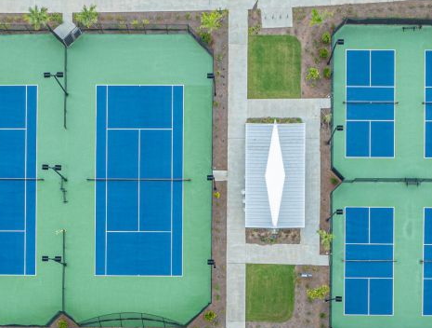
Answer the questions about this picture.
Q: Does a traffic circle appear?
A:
No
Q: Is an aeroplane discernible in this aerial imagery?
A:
No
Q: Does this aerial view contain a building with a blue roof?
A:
No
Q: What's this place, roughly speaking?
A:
sports ground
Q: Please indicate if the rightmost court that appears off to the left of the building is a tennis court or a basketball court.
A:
tennis court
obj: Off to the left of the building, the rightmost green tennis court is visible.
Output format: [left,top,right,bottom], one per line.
[63,34,213,326]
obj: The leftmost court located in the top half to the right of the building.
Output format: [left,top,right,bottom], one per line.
[332,24,410,178]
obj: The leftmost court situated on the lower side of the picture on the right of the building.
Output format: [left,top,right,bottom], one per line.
[331,180,410,328]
